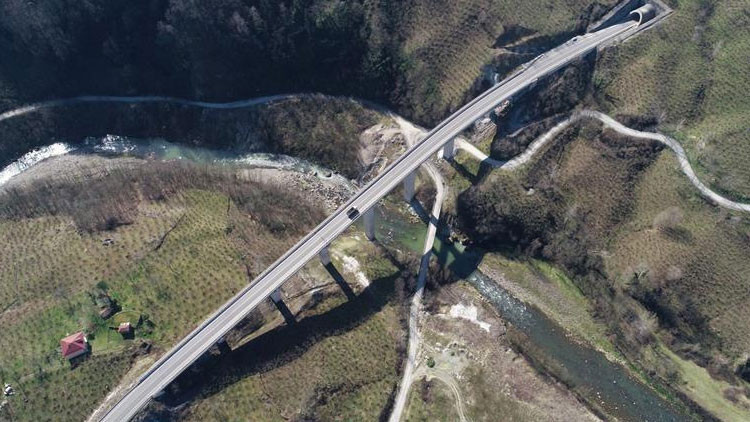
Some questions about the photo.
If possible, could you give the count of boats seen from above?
0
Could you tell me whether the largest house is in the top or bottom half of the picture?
bottom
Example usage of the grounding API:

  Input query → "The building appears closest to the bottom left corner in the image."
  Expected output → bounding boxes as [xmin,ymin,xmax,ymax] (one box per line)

[54,331,83,359]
